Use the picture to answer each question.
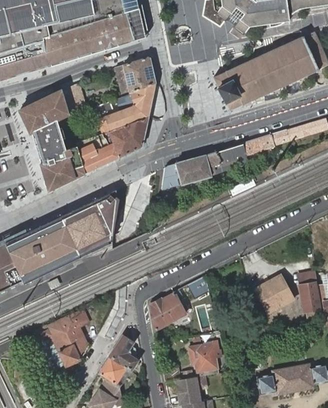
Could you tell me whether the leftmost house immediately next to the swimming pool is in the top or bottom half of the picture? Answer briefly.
bottom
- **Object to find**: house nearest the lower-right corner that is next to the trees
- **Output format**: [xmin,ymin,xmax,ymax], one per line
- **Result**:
[260,364,328,396]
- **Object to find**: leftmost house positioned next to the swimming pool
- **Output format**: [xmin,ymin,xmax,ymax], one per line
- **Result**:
[148,292,188,332]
